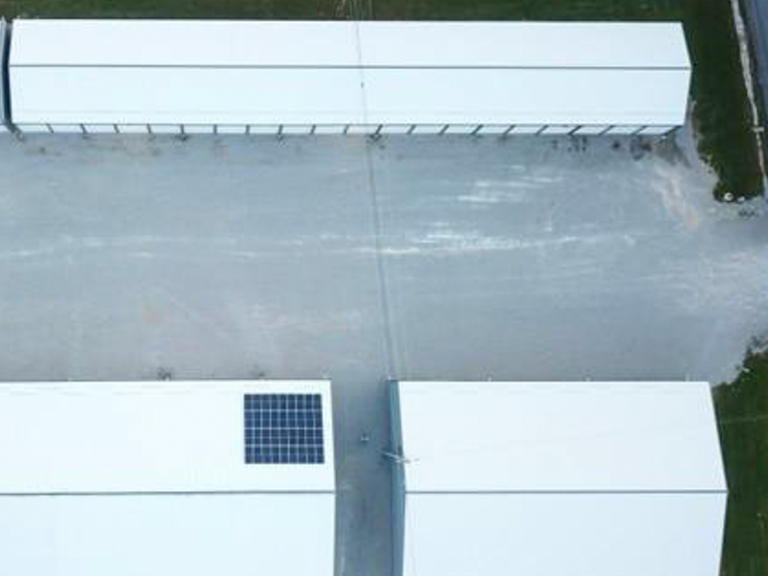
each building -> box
[0,379,336,576]
[8,18,690,139]
[391,379,727,576]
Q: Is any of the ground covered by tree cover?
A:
No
